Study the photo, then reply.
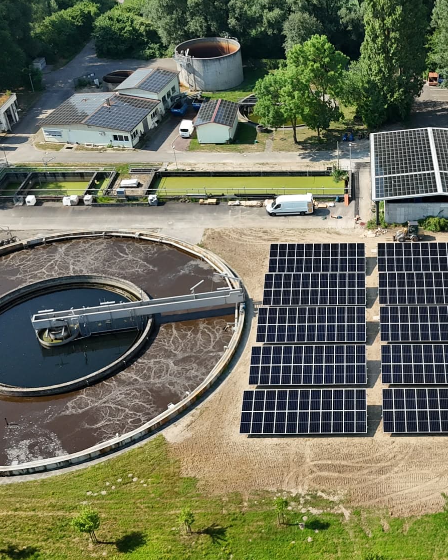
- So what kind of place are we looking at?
industrial area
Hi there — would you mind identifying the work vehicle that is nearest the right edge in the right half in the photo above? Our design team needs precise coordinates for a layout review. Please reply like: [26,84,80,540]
[384,219,425,240]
